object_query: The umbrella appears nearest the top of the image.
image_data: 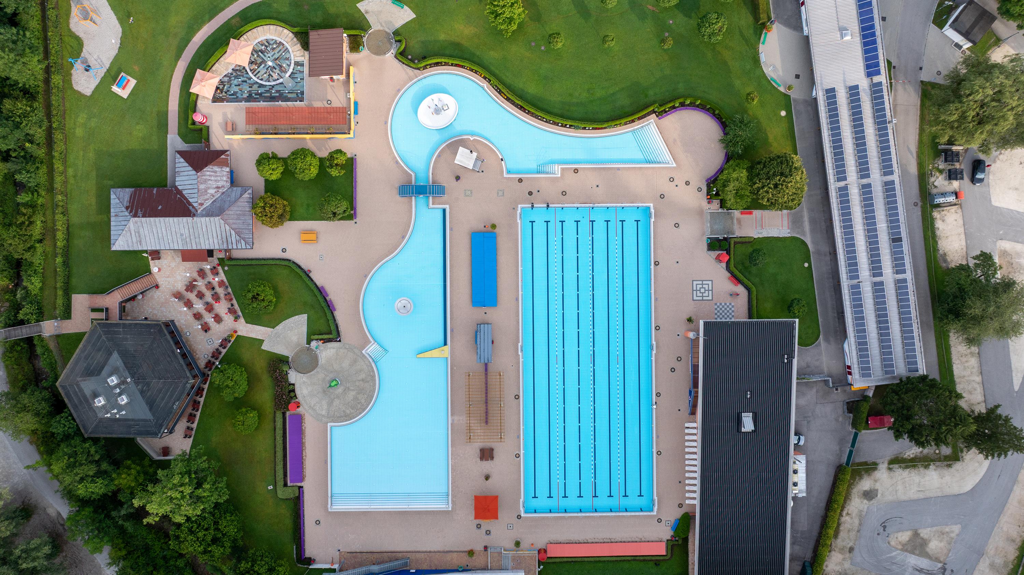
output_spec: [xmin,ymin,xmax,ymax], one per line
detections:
[224,36,254,68]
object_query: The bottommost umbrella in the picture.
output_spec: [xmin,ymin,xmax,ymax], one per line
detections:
[474,495,499,520]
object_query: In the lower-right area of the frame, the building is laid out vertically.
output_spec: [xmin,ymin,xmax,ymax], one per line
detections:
[693,319,806,575]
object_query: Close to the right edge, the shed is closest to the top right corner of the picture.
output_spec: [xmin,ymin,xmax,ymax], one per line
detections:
[940,0,996,53]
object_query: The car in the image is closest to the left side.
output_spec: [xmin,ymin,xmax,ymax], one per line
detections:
[794,434,811,448]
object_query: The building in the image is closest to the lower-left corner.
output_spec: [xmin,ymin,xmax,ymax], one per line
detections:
[55,318,207,458]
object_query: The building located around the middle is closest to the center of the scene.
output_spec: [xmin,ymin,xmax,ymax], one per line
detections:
[477,324,492,363]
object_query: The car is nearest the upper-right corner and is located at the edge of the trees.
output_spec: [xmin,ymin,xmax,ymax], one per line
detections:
[972,159,990,186]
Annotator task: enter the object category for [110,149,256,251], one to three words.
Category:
building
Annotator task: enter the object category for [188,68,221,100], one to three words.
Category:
umbrella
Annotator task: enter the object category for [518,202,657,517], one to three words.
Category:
swimming pool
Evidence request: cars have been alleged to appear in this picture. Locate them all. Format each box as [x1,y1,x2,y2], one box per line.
[972,159,990,186]
[794,434,811,448]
